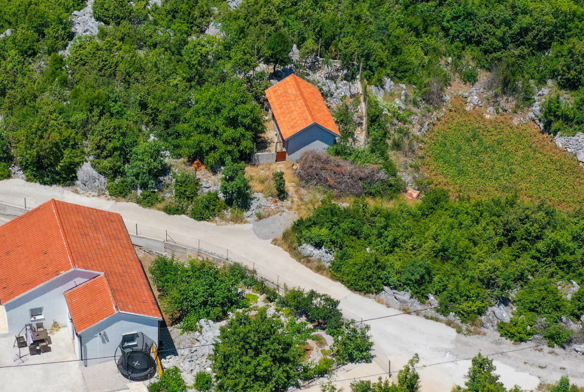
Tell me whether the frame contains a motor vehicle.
No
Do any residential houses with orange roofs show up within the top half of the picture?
Yes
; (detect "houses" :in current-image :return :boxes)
[260,73,342,163]
[0,200,164,366]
